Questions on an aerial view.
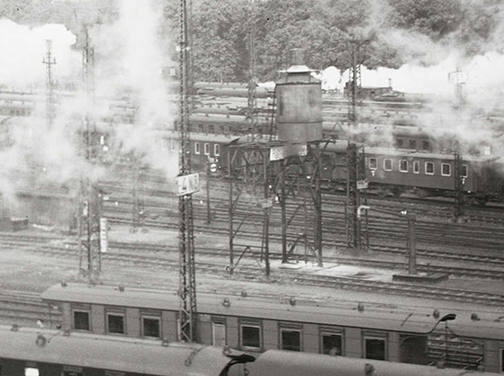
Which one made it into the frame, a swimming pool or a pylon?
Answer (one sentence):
The image shows a pylon.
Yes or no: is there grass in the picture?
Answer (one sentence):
No, there is no grass in the image.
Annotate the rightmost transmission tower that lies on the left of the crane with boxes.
[332,40,378,250]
